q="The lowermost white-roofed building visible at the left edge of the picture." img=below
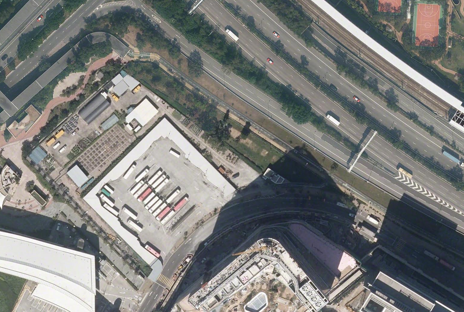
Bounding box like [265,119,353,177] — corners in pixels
[0,227,96,305]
